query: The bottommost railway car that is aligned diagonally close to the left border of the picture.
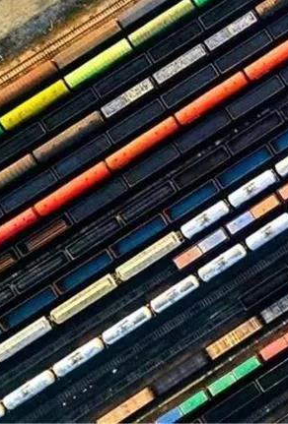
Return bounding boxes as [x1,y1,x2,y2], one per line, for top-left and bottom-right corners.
[4,368,59,409]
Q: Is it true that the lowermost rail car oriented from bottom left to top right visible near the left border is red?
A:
No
